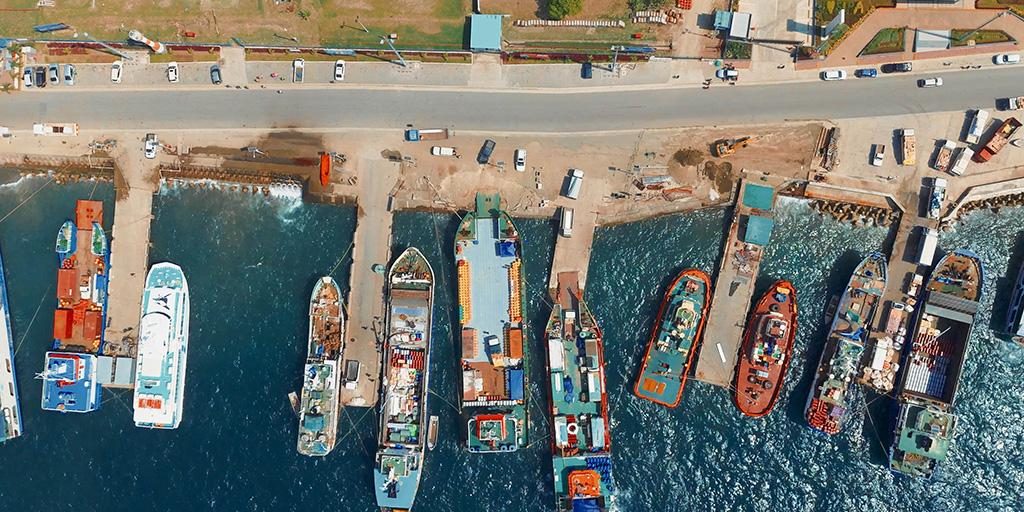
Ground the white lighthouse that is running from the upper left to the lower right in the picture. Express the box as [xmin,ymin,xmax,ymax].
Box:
[130,28,166,56]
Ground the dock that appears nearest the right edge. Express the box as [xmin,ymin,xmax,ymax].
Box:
[854,190,944,397]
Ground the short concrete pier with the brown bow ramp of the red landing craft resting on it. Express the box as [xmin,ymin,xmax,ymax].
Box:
[548,190,602,290]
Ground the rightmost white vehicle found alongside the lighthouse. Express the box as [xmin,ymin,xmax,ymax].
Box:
[169,62,181,85]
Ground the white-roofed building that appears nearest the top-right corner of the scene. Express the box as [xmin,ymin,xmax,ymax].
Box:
[726,11,751,42]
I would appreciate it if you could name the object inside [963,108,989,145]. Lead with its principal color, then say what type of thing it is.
white truck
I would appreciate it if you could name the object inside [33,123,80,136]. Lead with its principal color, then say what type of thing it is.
white vehicle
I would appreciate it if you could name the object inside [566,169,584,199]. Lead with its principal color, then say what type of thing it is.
white vehicle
